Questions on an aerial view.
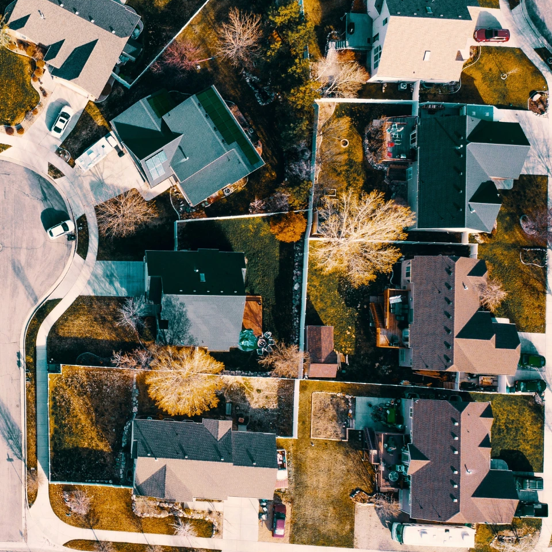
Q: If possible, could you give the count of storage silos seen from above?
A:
0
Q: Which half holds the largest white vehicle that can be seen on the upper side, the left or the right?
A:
left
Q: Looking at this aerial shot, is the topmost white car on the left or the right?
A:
left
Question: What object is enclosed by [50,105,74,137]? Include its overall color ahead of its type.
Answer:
white car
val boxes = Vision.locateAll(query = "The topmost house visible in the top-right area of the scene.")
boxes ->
[360,0,480,88]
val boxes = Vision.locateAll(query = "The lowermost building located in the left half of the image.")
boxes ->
[133,417,278,502]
